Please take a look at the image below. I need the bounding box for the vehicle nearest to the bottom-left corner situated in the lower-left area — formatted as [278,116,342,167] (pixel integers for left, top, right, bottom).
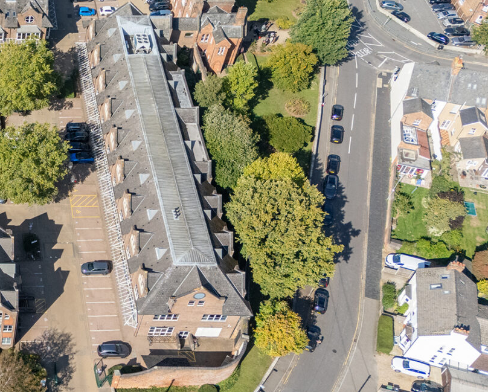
[96,341,128,357]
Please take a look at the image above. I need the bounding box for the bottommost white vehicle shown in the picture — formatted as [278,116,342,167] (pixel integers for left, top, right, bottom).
[393,359,429,376]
